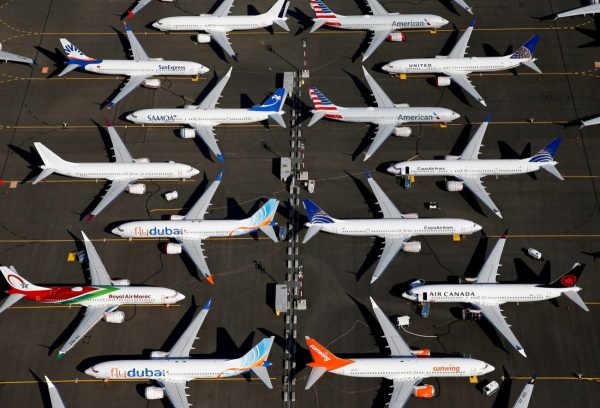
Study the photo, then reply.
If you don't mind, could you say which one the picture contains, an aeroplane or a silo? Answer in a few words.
aeroplane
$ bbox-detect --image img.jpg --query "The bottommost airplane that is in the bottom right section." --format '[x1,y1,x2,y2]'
[515,373,536,408]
